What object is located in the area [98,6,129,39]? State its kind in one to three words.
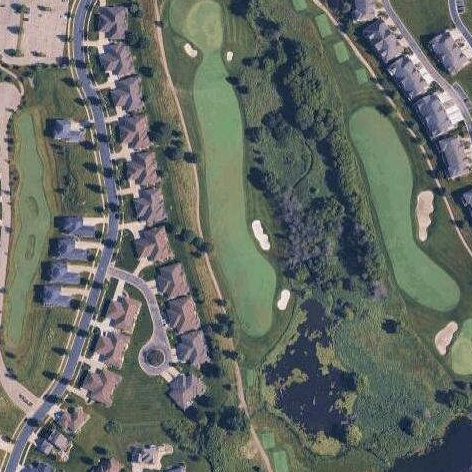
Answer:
house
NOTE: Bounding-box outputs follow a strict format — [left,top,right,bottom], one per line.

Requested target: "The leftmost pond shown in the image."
[263,299,358,442]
